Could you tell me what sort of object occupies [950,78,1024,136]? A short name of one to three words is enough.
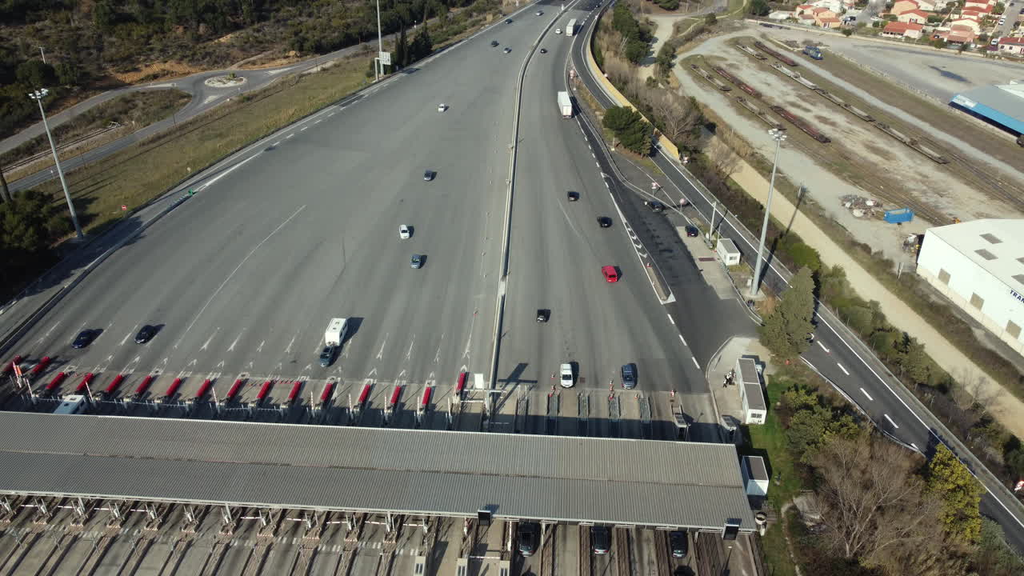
building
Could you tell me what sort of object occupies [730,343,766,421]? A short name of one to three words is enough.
building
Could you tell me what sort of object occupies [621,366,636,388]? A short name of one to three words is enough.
car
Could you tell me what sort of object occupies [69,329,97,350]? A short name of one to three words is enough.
car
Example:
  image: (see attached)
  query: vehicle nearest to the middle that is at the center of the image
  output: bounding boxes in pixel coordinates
[537,309,550,325]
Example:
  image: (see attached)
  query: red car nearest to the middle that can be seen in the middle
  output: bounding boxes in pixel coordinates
[604,267,616,282]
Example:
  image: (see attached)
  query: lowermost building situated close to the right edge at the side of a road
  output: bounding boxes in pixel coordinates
[917,214,1024,357]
